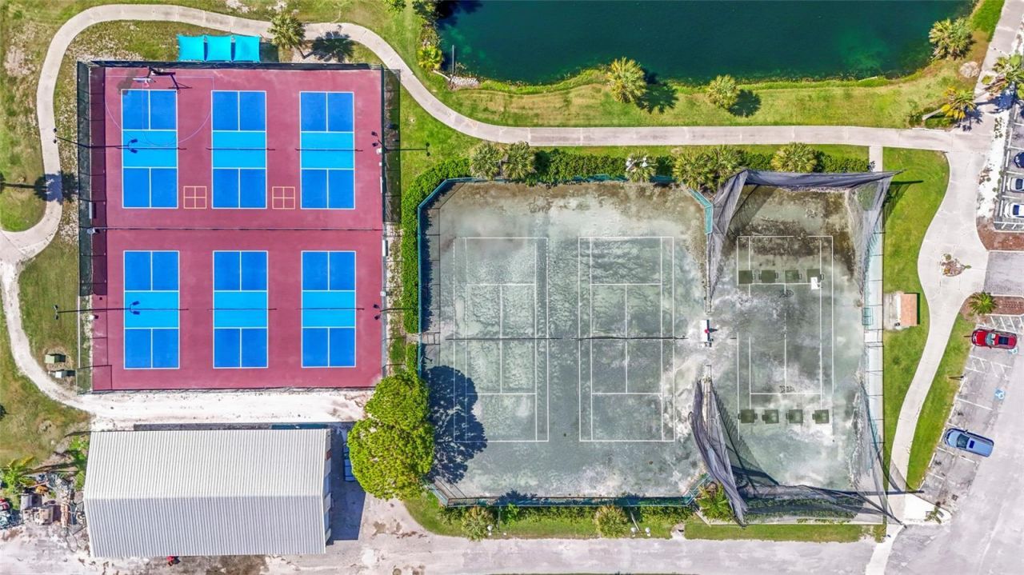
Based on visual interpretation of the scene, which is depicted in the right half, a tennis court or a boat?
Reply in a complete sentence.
You can see a tennis court in the right half.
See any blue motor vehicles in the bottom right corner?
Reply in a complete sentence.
Yes, a blue motor vehicle is visible in the bottom right corner.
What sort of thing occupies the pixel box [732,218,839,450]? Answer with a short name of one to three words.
tennis court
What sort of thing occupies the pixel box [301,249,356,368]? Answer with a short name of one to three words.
sports court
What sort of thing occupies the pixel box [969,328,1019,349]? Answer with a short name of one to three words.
car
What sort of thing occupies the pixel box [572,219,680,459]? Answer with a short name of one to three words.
tennis court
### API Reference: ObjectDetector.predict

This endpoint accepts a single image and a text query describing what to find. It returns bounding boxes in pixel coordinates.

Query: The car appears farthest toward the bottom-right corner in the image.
[943,429,996,457]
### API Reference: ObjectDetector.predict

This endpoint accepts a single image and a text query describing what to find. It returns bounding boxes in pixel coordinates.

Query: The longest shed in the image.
[83,427,333,557]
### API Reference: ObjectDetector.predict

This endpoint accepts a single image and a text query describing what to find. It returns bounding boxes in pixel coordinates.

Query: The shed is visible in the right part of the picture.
[878,292,914,326]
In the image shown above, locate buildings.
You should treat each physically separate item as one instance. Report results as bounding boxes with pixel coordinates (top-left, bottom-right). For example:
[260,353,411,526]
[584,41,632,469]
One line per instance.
[83,427,333,557]
[878,292,914,326]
